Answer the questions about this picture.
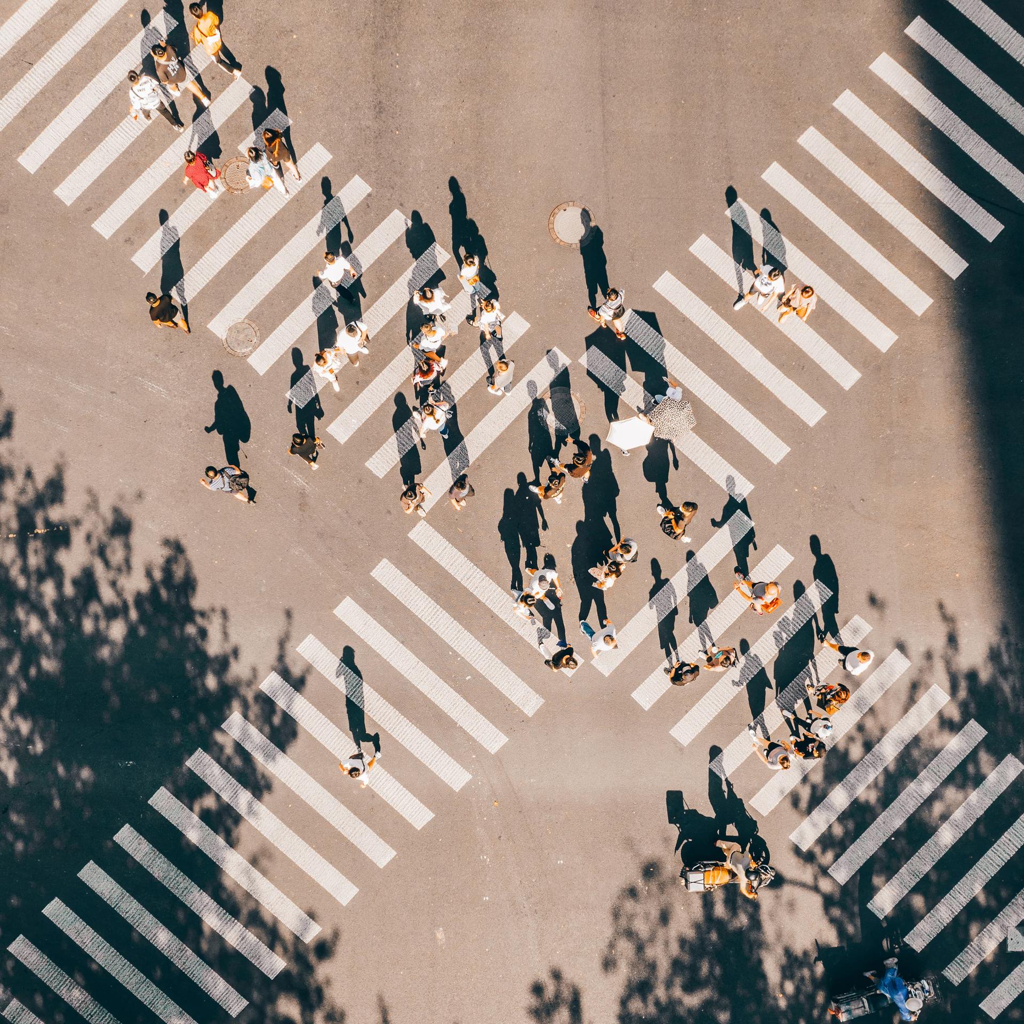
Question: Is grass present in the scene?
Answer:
No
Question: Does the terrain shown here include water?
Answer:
No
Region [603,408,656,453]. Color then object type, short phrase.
white umbrella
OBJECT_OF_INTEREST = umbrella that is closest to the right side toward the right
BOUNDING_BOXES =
[647,393,695,442]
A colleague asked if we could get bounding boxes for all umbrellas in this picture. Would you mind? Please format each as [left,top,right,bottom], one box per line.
[647,393,695,442]
[603,408,656,453]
